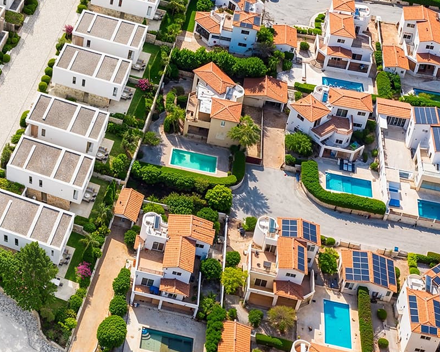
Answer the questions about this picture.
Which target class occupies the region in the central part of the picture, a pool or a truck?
pool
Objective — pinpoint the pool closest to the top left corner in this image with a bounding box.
[168,146,220,173]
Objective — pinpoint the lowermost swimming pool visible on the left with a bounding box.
[137,322,195,352]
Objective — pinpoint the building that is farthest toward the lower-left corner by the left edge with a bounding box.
[0,190,75,270]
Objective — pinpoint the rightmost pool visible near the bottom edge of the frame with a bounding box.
[320,297,355,351]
